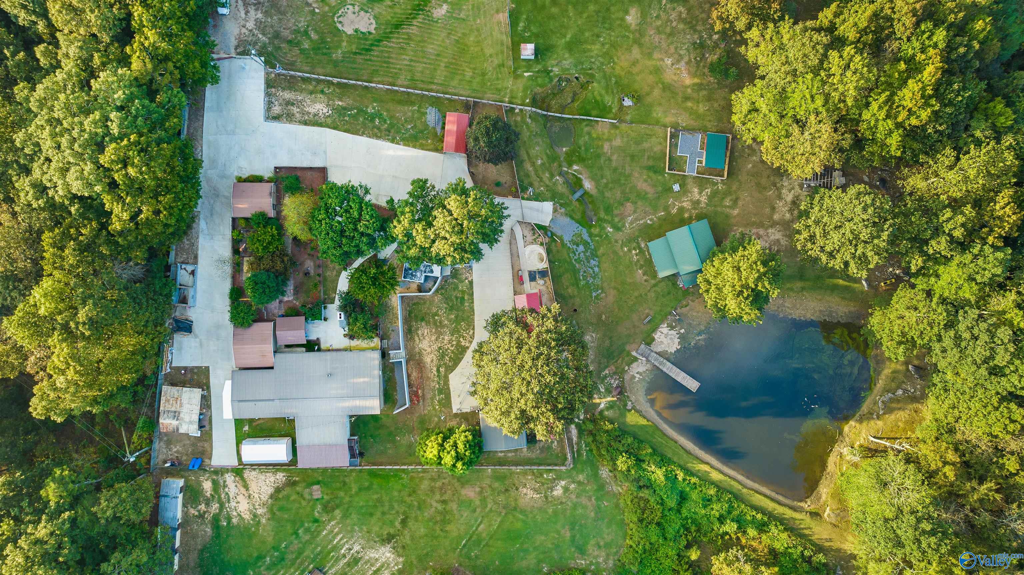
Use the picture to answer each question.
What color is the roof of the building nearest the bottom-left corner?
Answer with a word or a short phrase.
blue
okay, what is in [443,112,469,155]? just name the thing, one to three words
shed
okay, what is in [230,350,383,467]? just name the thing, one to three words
house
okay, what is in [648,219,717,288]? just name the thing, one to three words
building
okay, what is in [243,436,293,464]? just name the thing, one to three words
shed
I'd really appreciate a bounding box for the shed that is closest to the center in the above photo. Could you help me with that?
[515,292,541,318]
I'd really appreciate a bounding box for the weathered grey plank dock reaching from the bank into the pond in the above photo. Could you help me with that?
[636,344,700,392]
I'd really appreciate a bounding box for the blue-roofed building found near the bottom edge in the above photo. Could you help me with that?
[153,477,184,565]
